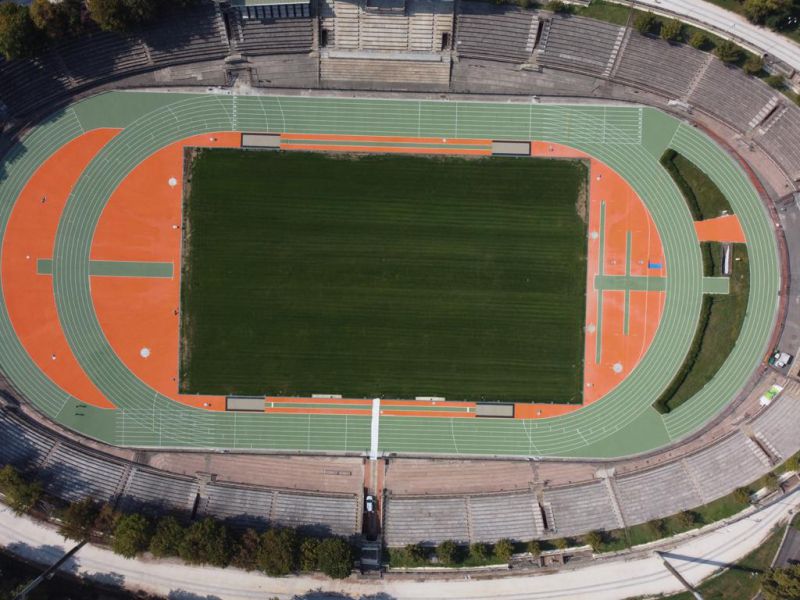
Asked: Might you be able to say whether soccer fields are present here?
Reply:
Yes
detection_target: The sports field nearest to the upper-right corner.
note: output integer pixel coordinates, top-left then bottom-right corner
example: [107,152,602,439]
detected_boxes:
[695,215,745,243]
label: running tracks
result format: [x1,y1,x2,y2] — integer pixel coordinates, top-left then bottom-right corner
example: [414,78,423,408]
[0,90,781,459]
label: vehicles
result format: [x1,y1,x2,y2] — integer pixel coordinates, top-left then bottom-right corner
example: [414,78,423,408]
[365,496,373,512]
[774,352,794,365]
